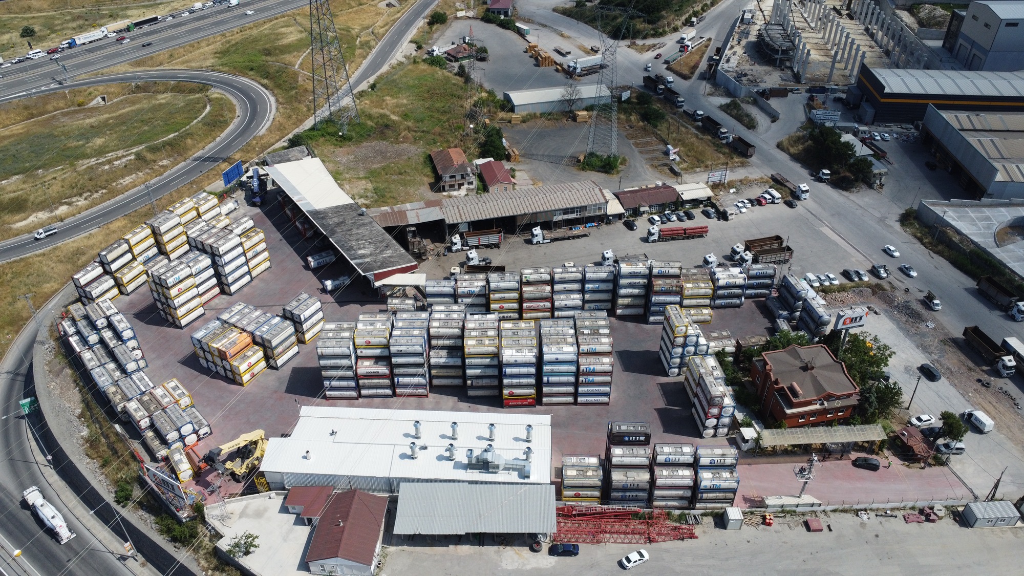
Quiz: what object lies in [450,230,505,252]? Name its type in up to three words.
truck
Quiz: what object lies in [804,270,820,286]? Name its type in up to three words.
vehicle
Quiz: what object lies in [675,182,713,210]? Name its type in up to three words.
building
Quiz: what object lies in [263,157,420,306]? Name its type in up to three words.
shed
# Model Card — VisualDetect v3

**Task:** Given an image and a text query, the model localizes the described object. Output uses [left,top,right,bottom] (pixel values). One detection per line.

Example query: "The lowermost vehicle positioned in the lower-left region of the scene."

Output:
[23,487,77,541]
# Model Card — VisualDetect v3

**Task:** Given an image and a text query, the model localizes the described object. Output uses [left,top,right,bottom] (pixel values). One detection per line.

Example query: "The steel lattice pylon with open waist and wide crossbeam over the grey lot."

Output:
[579,0,647,157]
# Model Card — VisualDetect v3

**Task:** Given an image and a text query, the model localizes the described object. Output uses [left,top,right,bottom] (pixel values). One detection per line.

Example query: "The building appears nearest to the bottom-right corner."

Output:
[961,500,1021,529]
